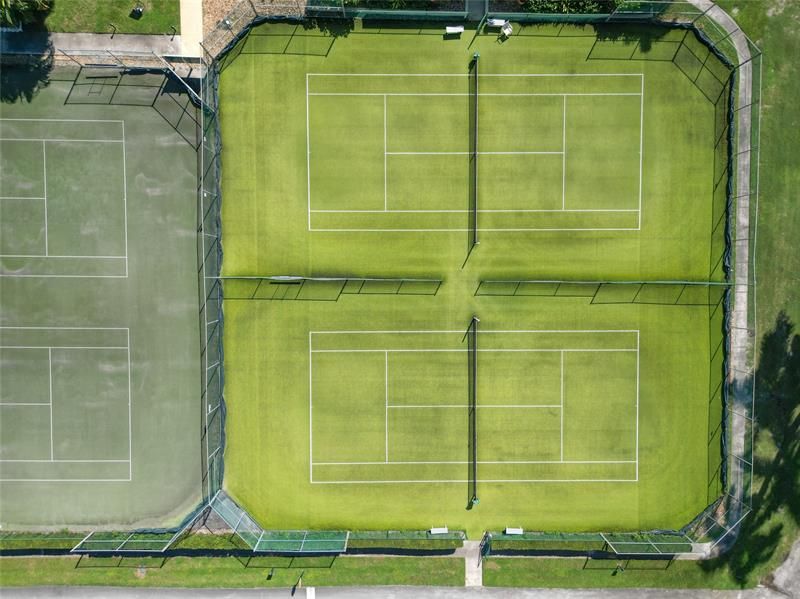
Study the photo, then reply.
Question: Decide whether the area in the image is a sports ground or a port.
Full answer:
The area seen from above is a sports ground.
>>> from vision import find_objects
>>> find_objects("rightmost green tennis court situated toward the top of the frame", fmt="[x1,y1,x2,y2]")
[215,19,730,282]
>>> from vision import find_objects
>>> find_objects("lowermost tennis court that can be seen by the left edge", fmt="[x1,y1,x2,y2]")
[0,302,220,530]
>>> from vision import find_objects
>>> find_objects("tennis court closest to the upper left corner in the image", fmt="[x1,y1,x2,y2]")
[0,68,217,302]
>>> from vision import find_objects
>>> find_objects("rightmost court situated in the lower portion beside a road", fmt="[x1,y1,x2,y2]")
[218,282,727,541]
